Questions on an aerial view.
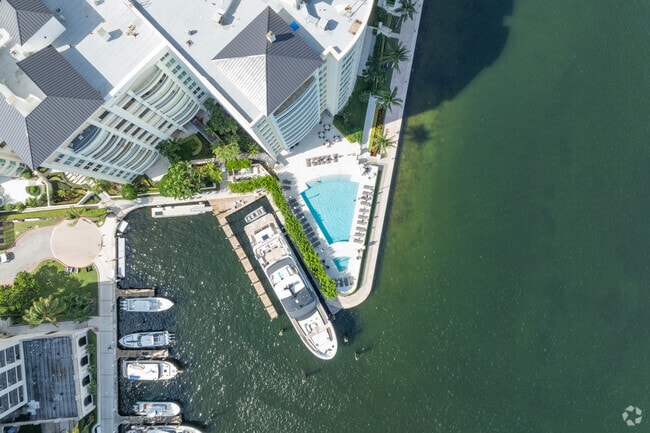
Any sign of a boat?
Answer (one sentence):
Yes, the image includes a boat.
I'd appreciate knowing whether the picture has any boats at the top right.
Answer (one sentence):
No, no boat appears at the top right.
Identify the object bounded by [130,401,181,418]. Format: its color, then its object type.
white boat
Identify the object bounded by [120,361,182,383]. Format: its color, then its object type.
white boat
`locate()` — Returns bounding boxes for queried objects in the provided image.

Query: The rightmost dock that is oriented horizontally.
[152,204,213,218]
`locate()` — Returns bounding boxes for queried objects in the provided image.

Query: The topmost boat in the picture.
[243,207,265,222]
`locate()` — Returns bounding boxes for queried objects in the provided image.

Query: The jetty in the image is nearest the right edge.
[216,215,277,319]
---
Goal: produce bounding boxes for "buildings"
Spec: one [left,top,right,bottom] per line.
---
[0,326,96,433]
[0,0,374,182]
